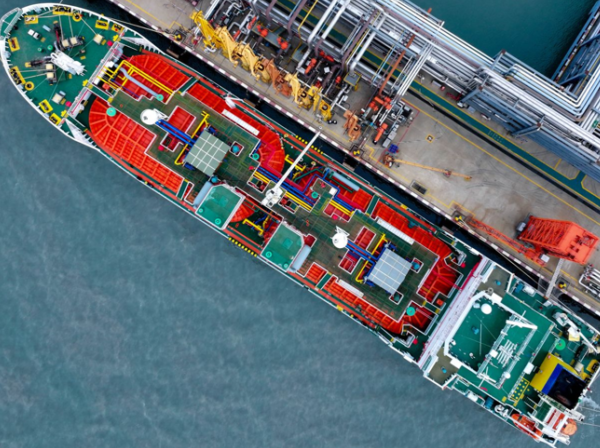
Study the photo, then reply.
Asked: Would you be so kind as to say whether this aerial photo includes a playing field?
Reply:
No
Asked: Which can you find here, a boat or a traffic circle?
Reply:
boat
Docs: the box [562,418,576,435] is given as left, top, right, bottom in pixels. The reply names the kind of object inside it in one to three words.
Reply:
boat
